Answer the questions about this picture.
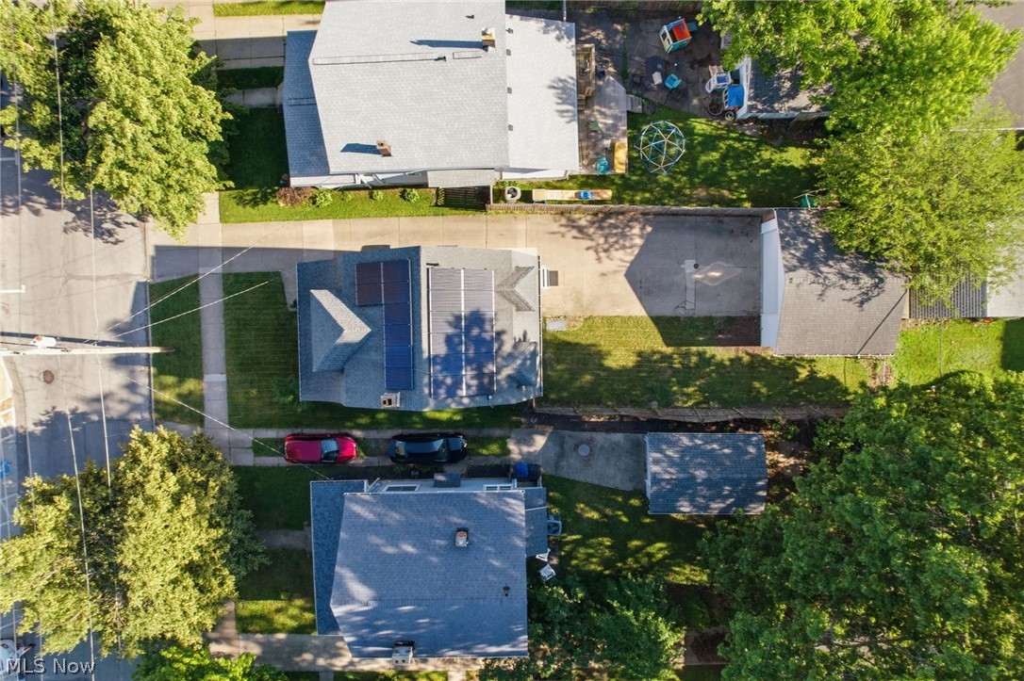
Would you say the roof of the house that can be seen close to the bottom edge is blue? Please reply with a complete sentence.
Yes, the roof of the house that can be seen close to the bottom edge is blue.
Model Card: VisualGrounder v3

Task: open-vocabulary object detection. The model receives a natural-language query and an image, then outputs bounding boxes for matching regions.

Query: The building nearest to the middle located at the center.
[295,247,558,410]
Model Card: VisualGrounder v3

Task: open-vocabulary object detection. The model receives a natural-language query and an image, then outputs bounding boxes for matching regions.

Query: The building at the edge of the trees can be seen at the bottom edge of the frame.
[311,469,547,665]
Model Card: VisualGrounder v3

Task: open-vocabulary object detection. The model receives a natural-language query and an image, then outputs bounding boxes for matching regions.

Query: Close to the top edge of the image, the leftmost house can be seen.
[283,2,577,197]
